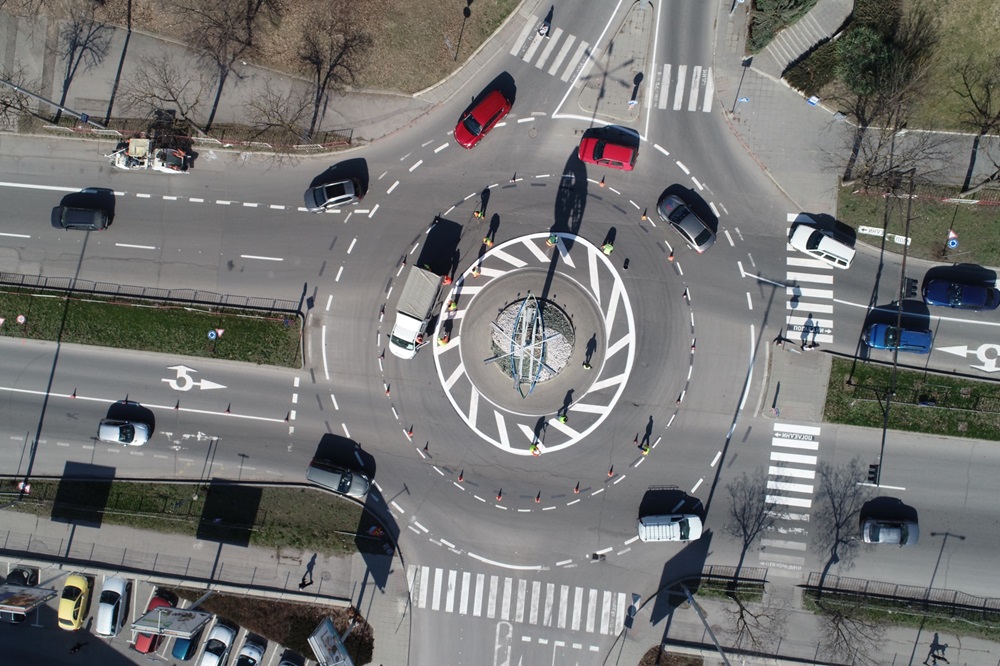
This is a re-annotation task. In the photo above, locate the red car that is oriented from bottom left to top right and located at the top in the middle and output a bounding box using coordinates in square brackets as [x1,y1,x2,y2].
[454,85,515,149]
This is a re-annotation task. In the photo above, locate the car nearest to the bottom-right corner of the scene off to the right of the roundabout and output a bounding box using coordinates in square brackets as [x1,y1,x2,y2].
[859,516,919,549]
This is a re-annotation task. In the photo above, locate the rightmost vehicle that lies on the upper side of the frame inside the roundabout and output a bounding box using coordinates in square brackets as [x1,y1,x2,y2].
[651,195,721,258]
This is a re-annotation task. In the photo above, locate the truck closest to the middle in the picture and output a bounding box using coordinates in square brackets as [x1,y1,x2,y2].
[385,266,441,358]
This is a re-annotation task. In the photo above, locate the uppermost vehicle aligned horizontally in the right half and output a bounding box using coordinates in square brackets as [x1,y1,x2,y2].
[576,136,640,170]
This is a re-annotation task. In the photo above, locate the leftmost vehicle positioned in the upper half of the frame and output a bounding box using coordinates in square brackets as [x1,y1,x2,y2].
[49,201,113,235]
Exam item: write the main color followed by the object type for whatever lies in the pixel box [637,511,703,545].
white vehicle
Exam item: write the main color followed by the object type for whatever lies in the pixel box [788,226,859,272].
white car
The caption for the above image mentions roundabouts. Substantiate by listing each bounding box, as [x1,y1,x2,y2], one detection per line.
[327,124,749,562]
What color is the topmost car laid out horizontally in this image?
red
